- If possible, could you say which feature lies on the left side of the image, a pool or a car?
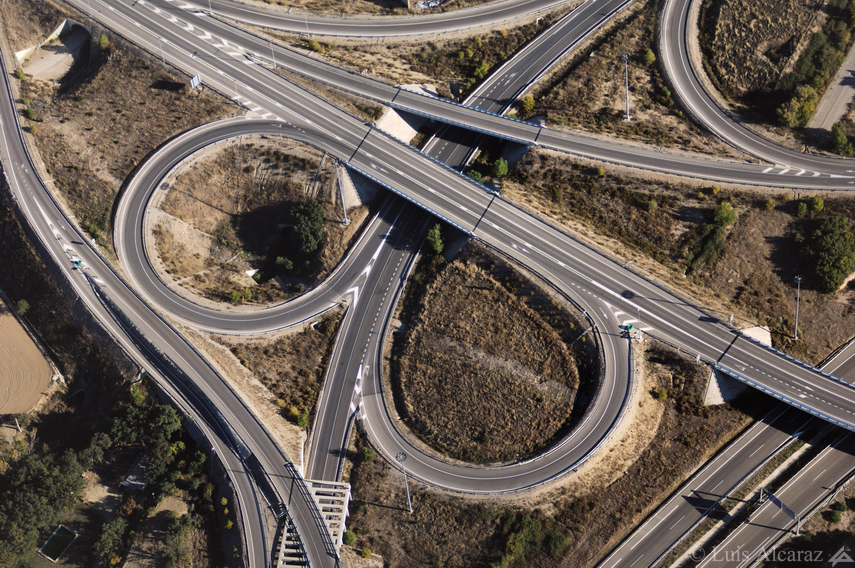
pool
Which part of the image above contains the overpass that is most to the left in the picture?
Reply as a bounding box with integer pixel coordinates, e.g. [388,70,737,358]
[271,469,341,568]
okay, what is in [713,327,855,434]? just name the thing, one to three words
overpass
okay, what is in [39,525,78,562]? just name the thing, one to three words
swimming pool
